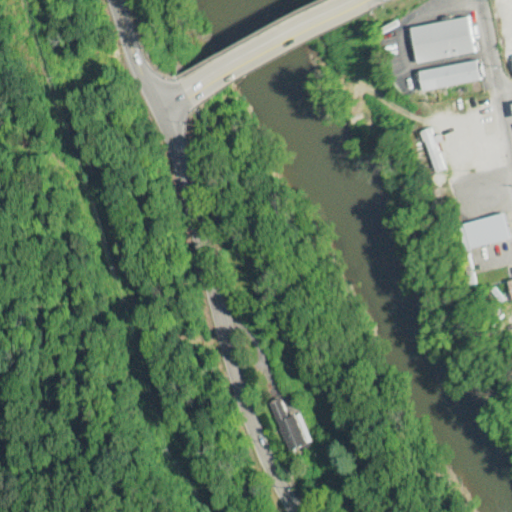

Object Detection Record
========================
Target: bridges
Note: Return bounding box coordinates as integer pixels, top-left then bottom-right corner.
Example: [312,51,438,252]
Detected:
[179,0,340,108]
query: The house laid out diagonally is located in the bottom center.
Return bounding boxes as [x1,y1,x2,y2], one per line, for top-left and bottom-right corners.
[270,398,313,450]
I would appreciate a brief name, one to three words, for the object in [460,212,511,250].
building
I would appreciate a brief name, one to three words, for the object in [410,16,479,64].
building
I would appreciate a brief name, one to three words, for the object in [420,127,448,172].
shed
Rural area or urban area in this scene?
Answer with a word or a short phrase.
rural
